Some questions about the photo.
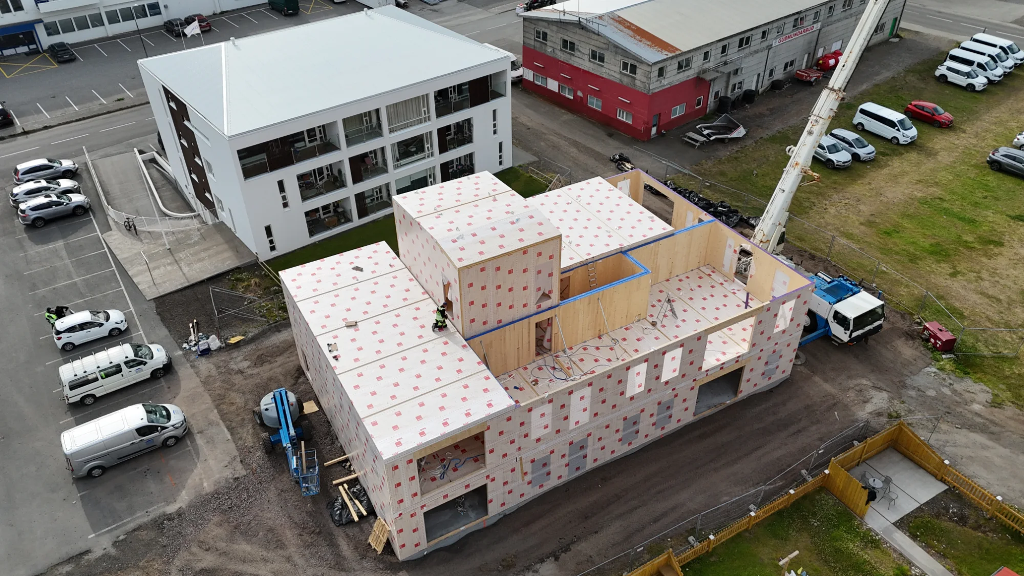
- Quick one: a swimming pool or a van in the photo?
van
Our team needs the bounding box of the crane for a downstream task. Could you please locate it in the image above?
[717,0,891,363]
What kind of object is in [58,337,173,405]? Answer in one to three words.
van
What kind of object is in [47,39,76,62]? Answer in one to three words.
car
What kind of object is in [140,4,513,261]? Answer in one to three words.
house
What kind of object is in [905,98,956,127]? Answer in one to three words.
car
